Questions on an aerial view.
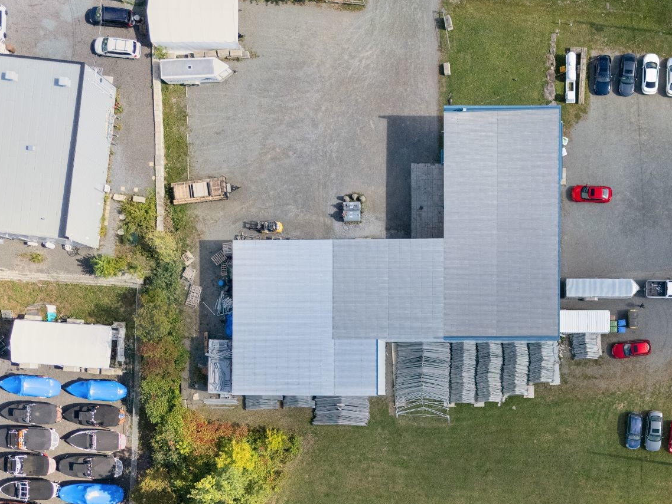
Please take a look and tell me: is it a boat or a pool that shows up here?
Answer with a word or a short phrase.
boat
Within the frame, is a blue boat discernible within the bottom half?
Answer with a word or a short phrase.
Yes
